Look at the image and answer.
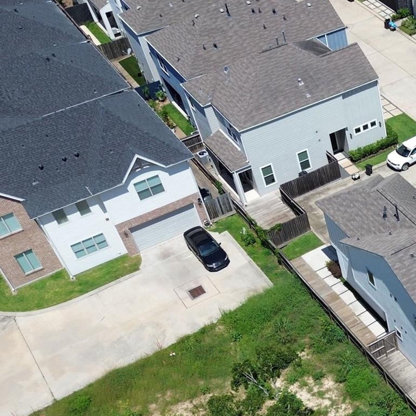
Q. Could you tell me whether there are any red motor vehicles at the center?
No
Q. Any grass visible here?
Yes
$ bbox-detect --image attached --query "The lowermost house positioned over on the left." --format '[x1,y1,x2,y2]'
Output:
[0,85,214,293]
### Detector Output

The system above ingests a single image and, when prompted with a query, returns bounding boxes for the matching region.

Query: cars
[180,225,228,272]
[386,134,416,171]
